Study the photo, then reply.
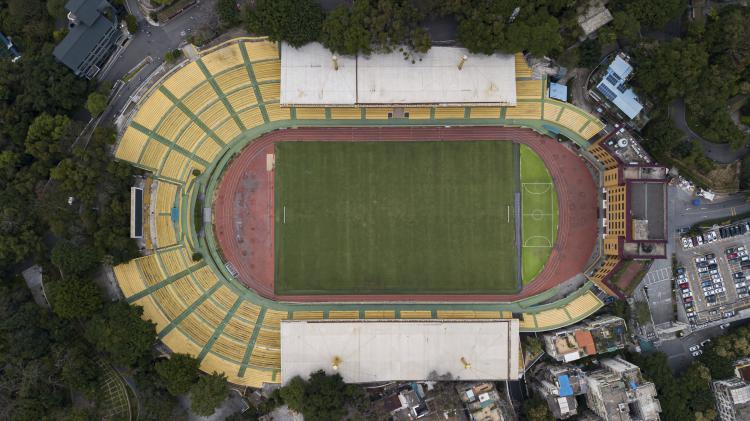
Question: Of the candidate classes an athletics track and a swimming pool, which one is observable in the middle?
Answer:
athletics track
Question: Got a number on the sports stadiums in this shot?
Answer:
1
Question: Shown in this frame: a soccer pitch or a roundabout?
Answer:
soccer pitch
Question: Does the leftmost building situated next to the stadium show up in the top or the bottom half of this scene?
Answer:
top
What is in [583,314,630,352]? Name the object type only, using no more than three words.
house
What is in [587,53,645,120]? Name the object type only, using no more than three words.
house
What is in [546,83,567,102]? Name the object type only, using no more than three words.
shed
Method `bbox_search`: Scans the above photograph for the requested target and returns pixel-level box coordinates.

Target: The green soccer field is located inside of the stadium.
[274,141,521,295]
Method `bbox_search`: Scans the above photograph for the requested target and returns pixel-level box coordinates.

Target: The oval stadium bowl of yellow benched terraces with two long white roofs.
[113,35,612,388]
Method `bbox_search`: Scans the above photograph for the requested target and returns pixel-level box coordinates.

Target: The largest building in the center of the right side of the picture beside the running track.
[589,122,667,302]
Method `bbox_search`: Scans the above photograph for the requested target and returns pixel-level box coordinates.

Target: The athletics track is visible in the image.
[214,126,597,303]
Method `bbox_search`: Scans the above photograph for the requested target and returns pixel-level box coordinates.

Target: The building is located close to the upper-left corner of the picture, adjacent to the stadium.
[53,0,135,83]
